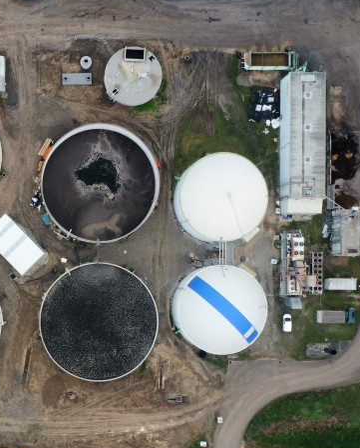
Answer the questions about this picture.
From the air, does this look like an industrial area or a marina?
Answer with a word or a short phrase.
industrial area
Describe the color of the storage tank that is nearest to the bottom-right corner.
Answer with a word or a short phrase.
white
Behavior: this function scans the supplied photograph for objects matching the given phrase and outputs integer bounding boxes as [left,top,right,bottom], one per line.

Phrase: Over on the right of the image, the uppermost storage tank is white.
[174,152,269,242]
